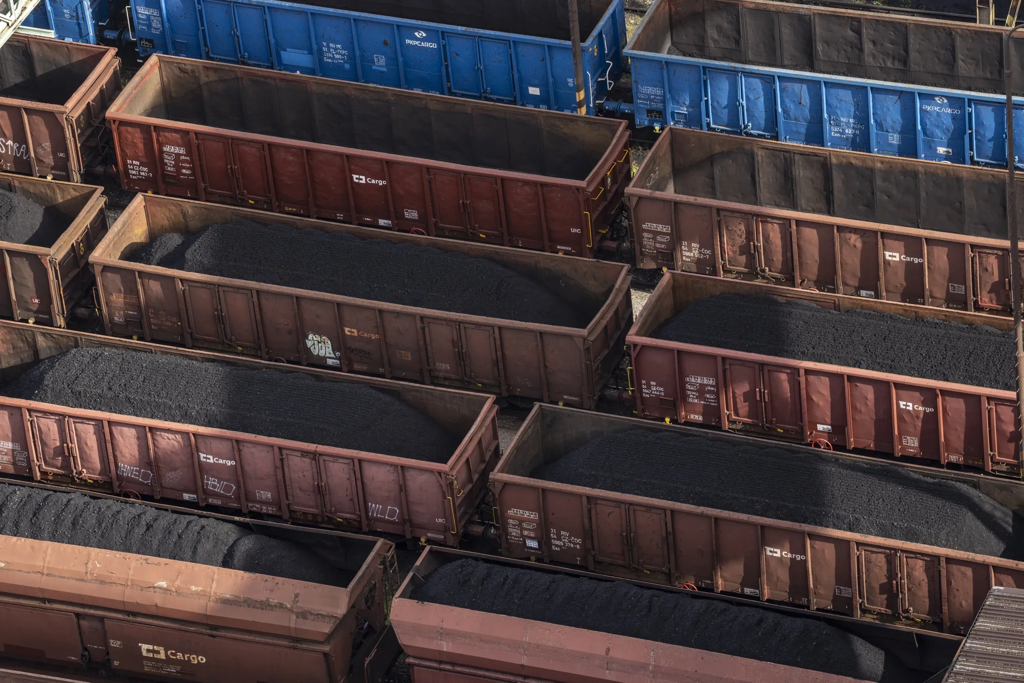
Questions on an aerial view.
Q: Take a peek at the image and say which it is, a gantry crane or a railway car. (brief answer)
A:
railway car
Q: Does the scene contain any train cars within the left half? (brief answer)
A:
Yes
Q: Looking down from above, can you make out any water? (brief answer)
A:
No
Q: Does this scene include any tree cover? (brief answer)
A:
No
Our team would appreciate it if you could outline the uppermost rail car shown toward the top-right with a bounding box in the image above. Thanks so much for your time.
[614,0,1024,173]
